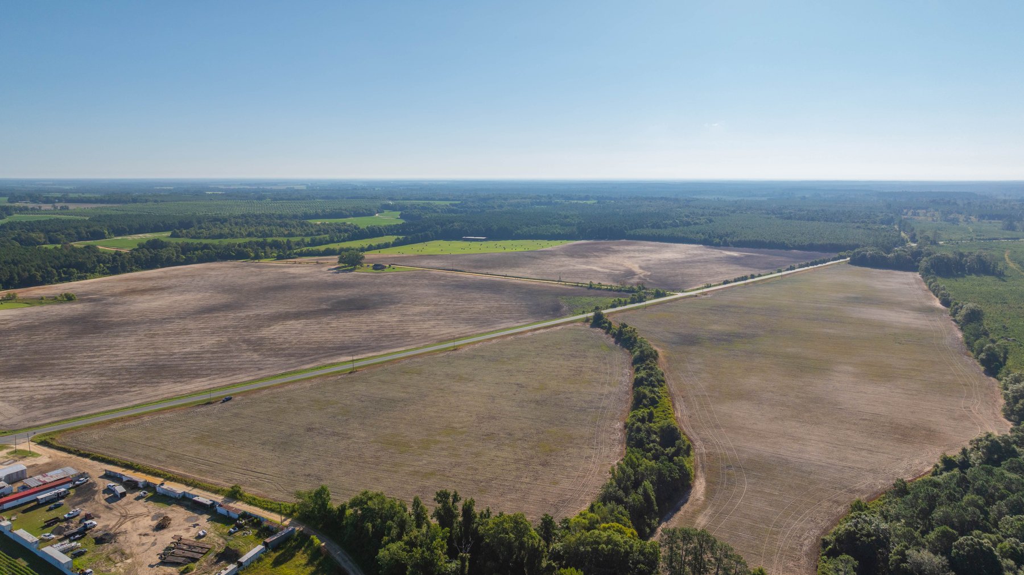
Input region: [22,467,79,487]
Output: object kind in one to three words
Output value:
shed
